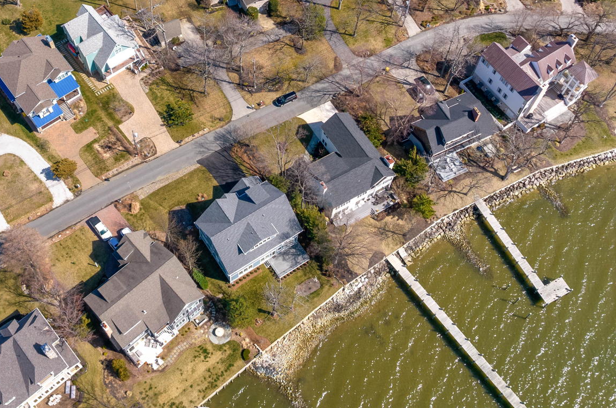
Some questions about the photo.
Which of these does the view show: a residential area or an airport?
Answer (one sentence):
It's a residential area.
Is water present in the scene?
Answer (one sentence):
Yes, water shows up in the scene.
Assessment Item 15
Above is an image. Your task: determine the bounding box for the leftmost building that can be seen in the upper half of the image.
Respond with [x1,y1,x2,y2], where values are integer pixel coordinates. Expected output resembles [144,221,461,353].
[0,32,83,136]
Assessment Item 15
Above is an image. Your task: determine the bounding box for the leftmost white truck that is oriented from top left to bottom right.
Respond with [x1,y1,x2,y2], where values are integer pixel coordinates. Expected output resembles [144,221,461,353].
[85,215,113,241]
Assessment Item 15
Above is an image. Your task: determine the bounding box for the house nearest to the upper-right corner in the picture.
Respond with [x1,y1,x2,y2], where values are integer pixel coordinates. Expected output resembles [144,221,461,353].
[477,32,598,137]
